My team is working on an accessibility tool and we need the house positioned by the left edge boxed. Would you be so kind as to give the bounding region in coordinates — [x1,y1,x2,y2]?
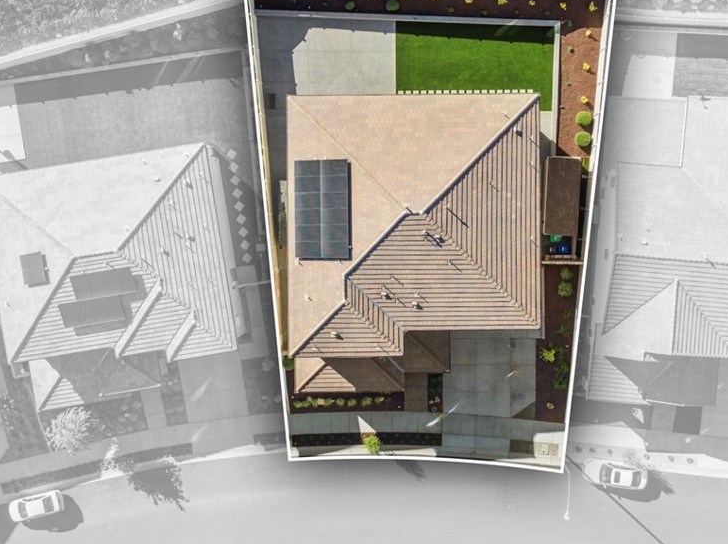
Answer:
[0,142,250,413]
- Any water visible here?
No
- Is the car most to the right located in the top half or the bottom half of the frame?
bottom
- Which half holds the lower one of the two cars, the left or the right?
left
